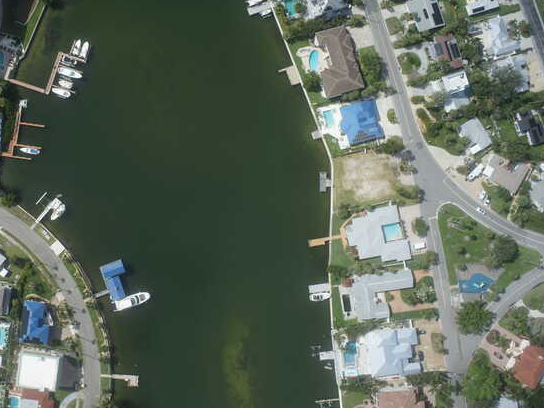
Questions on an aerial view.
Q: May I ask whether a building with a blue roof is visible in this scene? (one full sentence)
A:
Yes, the picture does show a building with a blue roof.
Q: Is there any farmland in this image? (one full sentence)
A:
No, there is no farmland in the image.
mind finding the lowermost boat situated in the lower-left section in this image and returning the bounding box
[112,295,150,310]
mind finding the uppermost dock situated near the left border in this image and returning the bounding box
[7,39,88,95]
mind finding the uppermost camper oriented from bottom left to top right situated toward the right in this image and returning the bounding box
[467,165,483,181]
